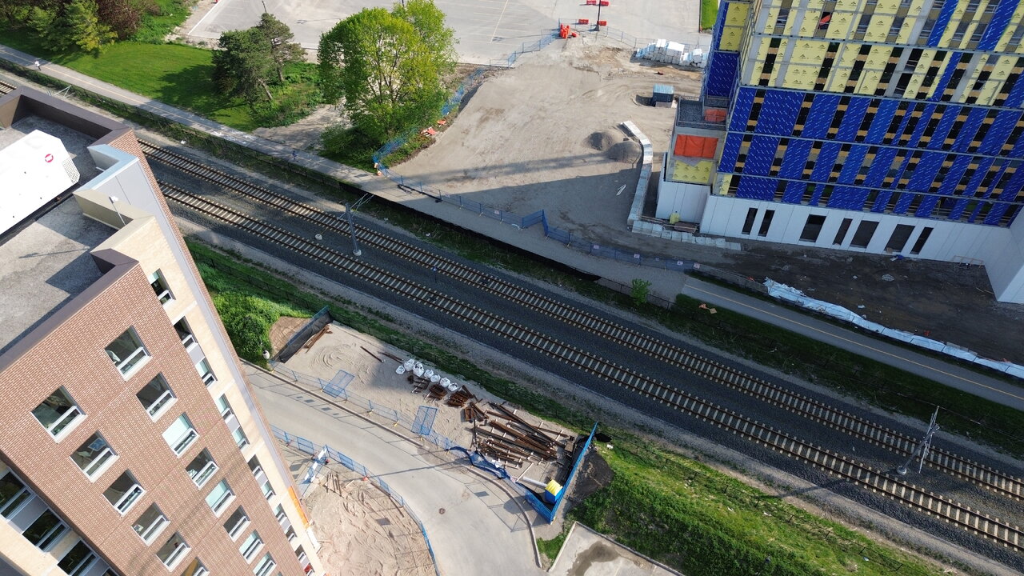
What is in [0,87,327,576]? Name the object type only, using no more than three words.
building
